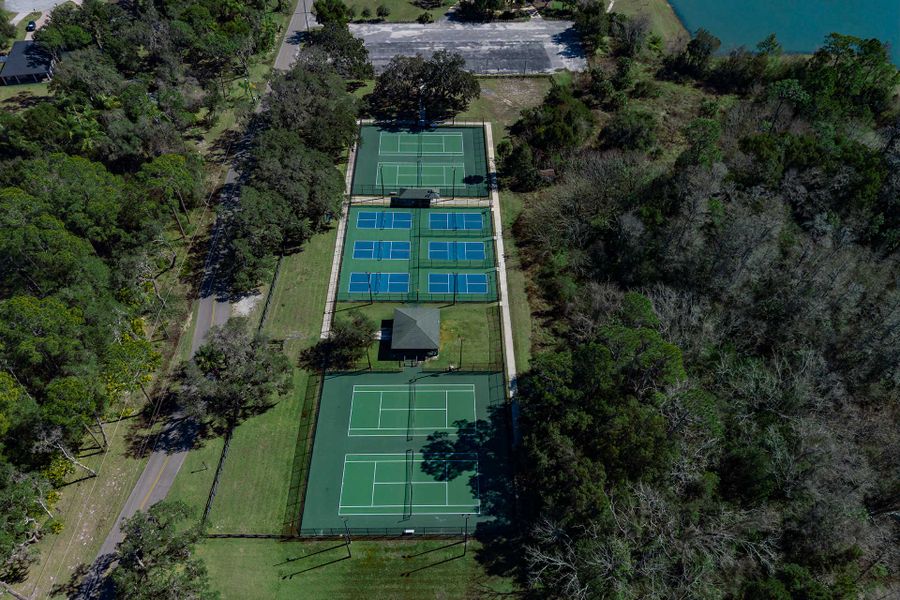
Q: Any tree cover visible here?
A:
Yes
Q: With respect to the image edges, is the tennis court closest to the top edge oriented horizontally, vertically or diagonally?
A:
horizontally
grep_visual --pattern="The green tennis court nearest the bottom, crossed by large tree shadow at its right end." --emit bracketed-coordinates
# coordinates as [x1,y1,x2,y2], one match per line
[338,448,481,519]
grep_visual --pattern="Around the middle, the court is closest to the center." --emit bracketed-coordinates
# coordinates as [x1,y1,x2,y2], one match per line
[429,273,489,293]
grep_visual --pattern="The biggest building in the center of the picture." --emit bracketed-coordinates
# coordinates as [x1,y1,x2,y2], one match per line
[392,308,439,356]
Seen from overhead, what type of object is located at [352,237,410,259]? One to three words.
sports court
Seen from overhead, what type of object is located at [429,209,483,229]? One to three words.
sports court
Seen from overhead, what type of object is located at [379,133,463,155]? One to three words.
tennis court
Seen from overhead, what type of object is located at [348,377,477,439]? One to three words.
tennis court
